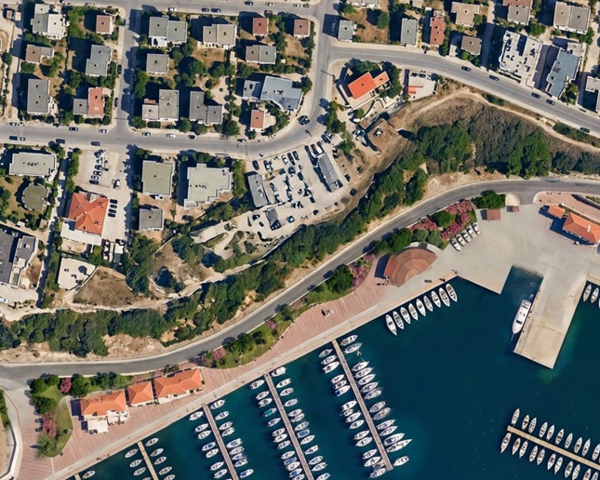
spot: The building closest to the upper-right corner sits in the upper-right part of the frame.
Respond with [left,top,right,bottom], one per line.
[552,1,592,38]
